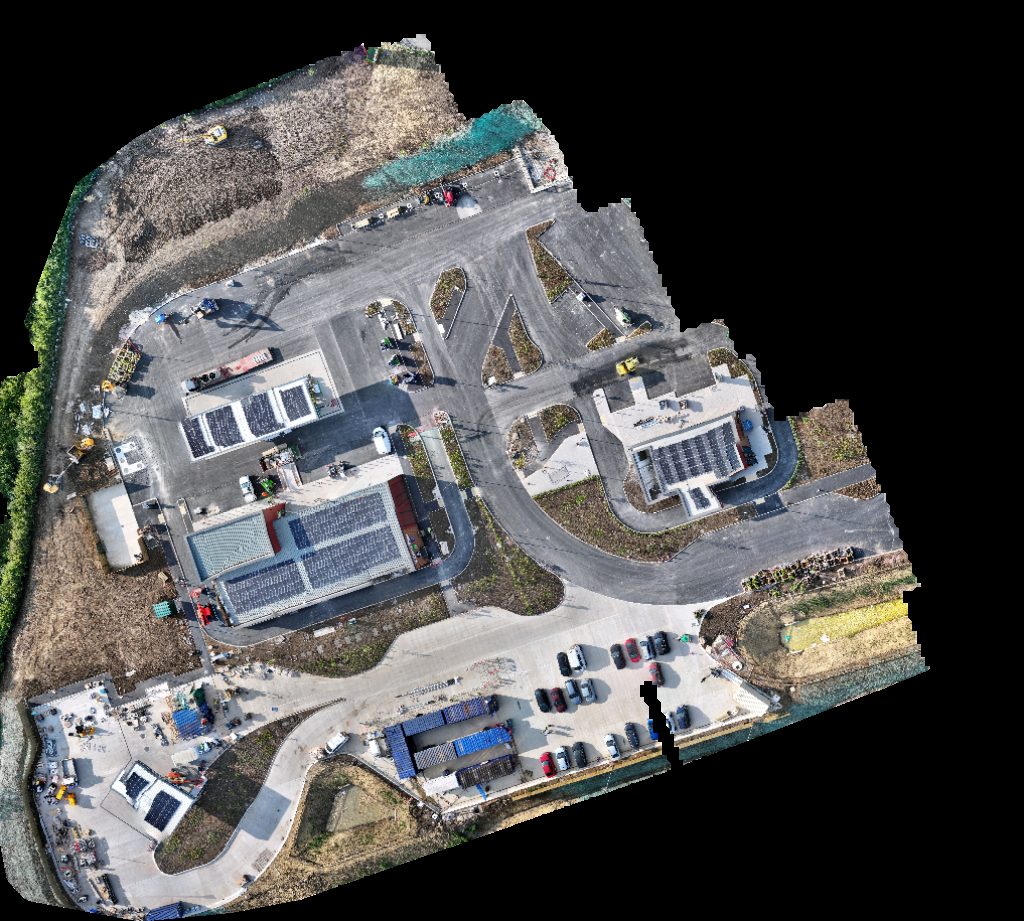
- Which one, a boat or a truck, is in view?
truck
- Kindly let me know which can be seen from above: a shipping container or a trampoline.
shipping container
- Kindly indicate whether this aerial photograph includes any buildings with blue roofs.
Yes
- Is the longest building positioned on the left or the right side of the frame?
left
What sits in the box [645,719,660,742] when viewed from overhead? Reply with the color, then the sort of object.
blue car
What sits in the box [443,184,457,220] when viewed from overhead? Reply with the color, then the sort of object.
red work vehicle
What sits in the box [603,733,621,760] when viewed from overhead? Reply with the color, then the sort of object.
white car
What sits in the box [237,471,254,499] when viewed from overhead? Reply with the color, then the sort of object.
white vehicle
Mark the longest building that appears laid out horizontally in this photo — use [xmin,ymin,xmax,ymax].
[184,475,430,632]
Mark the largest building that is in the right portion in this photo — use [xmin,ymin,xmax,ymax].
[631,412,751,519]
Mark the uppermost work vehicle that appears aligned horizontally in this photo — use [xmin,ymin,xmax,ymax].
[174,123,229,148]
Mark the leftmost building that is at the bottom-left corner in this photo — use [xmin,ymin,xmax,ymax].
[110,761,196,845]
